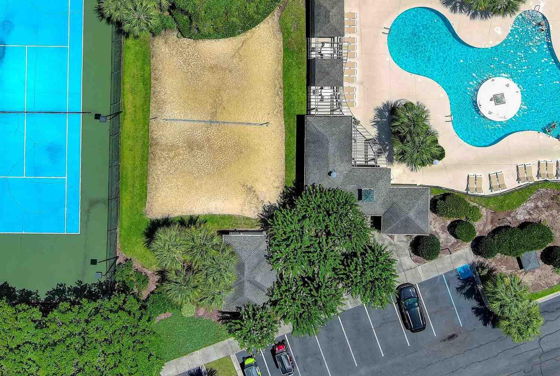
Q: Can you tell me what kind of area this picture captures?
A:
sports ground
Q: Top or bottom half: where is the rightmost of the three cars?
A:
bottom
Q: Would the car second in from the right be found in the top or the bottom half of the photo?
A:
bottom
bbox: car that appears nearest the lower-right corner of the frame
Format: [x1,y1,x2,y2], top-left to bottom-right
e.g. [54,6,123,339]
[395,281,426,335]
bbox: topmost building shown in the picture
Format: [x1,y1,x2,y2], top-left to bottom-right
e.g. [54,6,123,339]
[314,0,345,38]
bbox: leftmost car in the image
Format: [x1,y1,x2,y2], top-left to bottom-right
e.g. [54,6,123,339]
[240,352,265,376]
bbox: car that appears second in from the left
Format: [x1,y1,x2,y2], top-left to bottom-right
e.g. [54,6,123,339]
[268,334,298,376]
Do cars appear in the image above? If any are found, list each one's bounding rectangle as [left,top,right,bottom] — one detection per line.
[268,334,298,376]
[395,281,426,335]
[240,352,265,376]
